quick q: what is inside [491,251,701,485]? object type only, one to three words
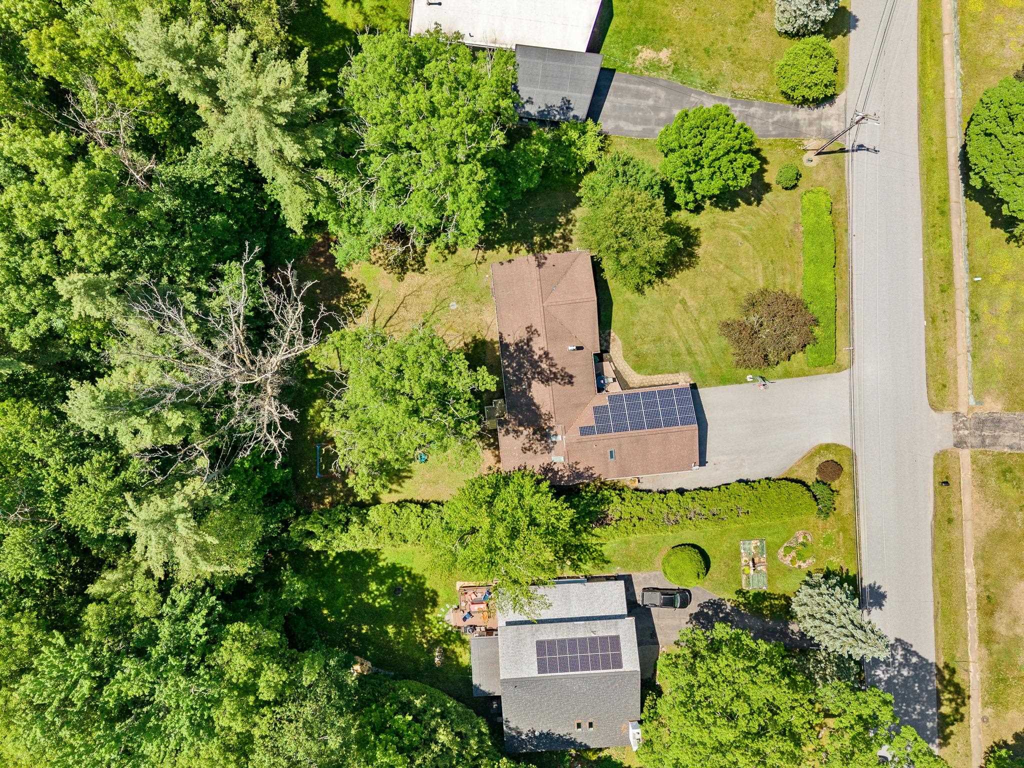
house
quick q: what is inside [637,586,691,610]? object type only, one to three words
truck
